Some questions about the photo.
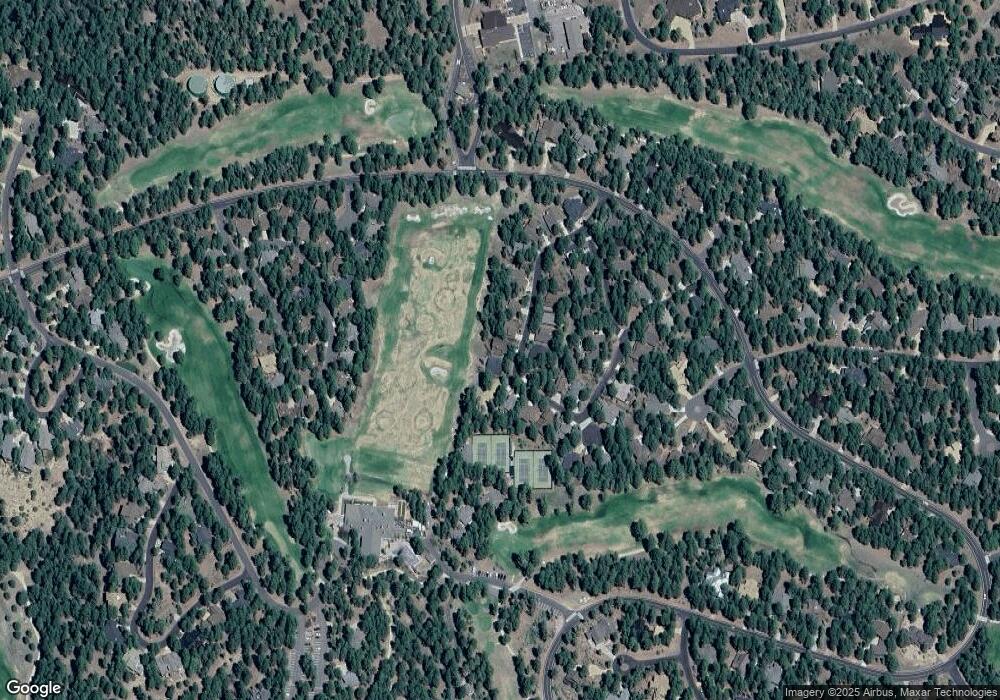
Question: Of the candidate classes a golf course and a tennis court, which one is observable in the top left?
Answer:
golf course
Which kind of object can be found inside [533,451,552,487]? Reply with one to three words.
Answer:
tennis court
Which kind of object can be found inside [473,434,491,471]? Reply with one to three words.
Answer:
tennis court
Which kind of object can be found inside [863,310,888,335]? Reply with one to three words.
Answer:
house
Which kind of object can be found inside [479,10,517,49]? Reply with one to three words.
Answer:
building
